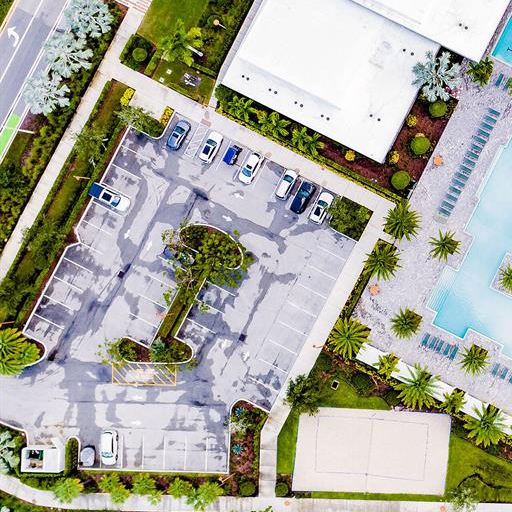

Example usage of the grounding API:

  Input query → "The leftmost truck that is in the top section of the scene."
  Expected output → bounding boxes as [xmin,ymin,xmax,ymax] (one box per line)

[88,183,132,211]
